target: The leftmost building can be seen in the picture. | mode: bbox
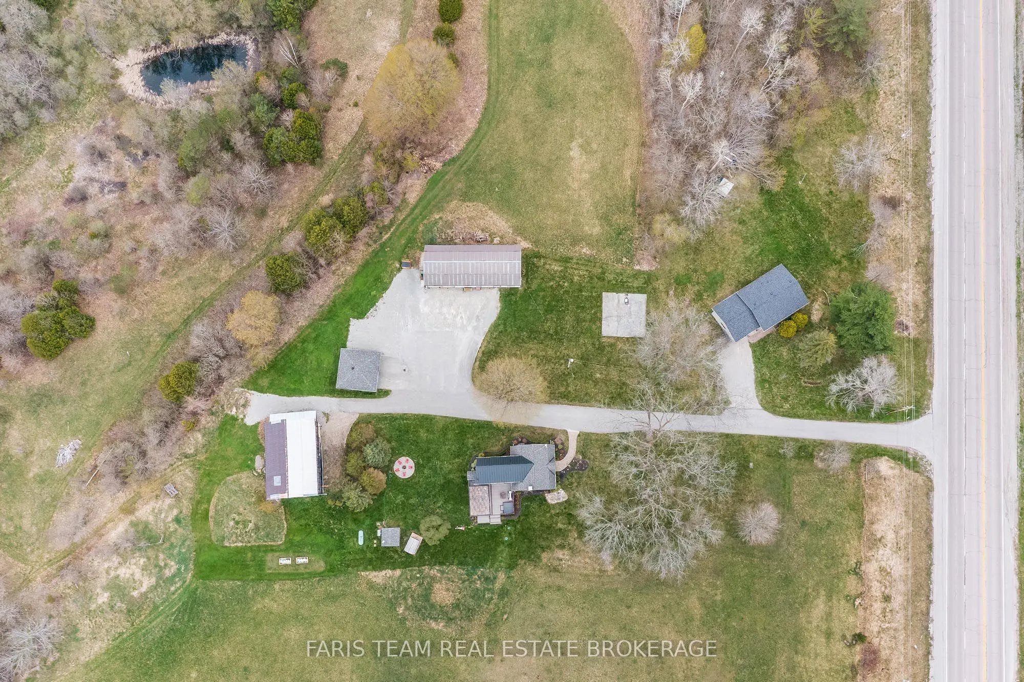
[265,410,327,500]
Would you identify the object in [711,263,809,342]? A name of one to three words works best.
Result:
house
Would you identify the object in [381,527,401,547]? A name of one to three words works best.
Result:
shed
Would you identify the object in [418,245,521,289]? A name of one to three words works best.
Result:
building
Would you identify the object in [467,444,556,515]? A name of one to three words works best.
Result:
house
